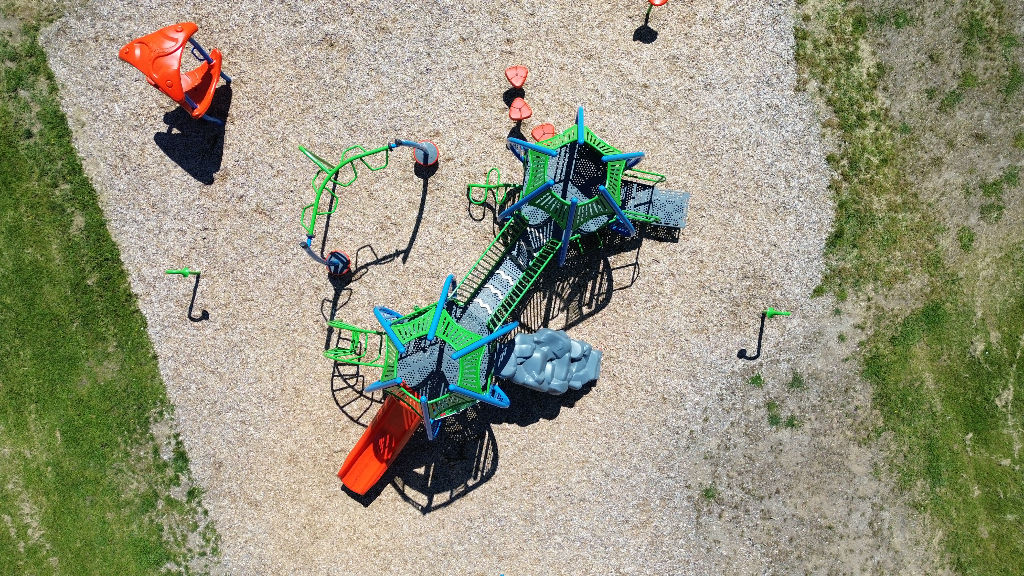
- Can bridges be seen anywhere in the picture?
Yes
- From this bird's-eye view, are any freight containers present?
No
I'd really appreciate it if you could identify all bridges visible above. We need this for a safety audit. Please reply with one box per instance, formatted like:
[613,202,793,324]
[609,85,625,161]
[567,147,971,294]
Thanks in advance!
[450,212,561,330]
